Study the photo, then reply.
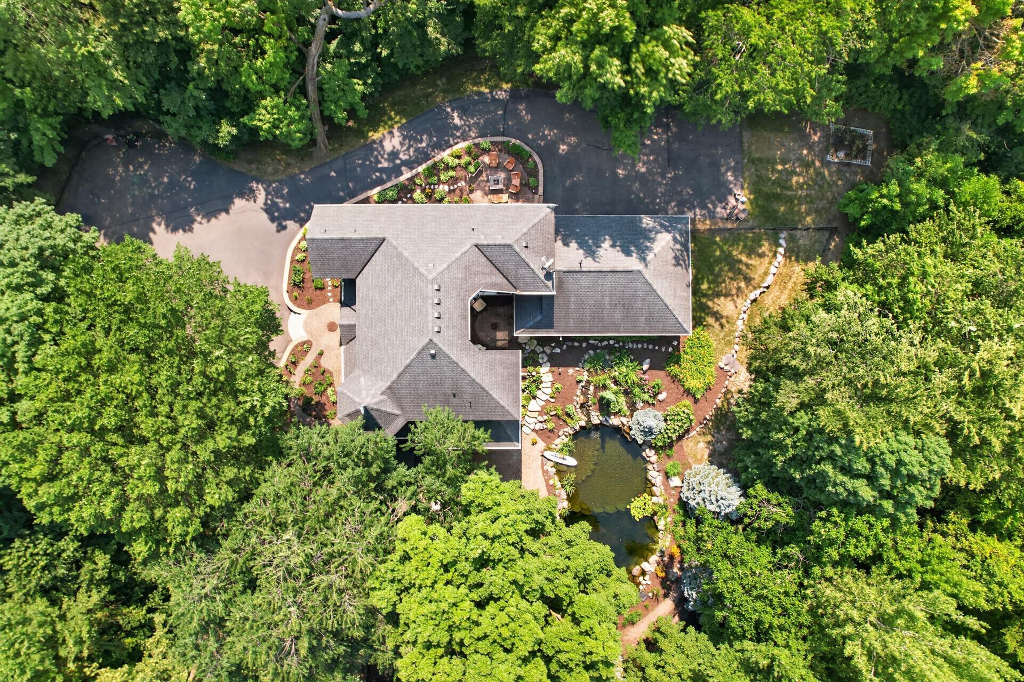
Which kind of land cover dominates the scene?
trees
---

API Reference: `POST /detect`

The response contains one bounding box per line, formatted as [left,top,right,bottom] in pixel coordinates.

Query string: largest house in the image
[305,202,692,449]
